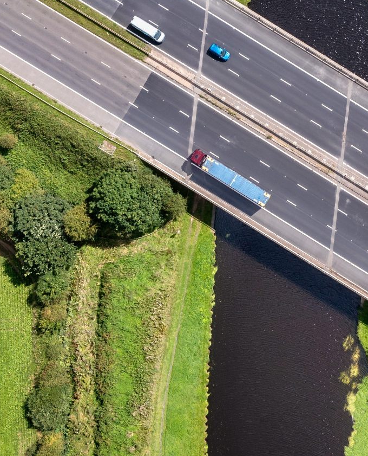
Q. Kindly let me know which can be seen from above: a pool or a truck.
truck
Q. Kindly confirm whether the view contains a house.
No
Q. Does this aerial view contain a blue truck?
Yes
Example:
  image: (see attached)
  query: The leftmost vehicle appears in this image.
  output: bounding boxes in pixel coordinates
[130,15,166,43]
